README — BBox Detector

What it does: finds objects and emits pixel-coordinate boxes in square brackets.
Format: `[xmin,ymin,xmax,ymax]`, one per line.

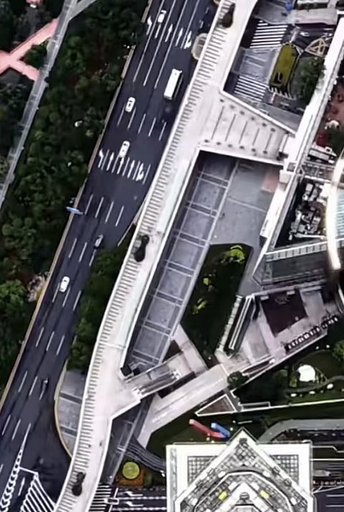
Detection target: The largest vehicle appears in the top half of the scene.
[165,70,182,107]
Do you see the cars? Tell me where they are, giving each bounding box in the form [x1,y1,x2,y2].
[59,276,70,293]
[196,15,206,33]
[120,142,129,160]
[94,233,104,250]
[39,376,50,392]
[125,97,135,115]
[156,9,166,27]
